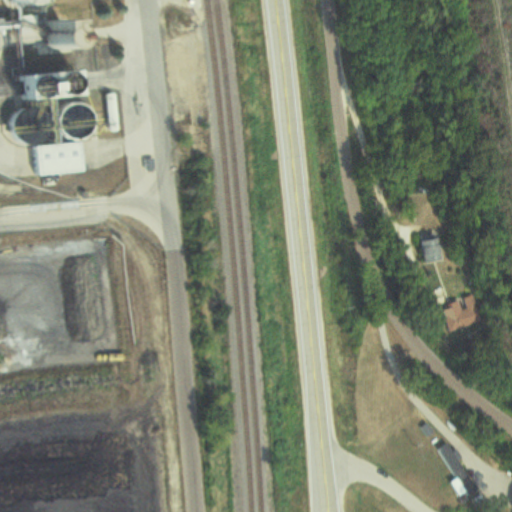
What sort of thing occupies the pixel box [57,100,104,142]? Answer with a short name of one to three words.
storage tank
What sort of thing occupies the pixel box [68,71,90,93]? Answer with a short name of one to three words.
silo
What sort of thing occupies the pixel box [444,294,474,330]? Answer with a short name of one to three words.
house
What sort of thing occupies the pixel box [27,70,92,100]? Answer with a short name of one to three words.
building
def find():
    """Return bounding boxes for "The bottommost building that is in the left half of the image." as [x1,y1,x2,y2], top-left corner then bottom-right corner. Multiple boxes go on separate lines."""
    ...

[34,142,85,186]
